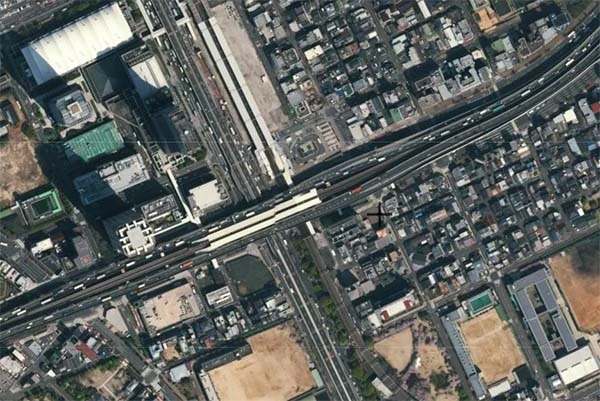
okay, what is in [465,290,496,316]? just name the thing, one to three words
swimming pool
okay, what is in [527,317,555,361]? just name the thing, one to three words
building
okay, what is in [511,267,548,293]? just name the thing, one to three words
building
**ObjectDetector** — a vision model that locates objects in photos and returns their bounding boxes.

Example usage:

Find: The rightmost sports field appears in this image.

[551,241,600,333]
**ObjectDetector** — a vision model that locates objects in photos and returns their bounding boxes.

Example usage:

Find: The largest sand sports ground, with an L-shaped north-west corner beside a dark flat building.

[208,322,315,401]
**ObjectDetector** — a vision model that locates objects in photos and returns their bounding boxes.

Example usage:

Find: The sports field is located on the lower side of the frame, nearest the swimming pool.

[459,309,526,384]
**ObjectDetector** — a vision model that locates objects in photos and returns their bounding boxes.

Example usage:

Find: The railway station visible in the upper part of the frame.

[199,17,295,186]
